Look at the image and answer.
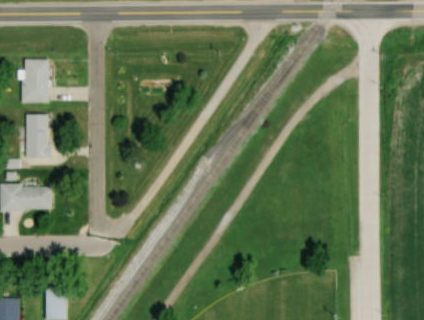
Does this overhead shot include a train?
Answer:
No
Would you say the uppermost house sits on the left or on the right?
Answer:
left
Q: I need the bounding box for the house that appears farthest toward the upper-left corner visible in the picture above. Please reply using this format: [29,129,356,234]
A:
[17,58,49,102]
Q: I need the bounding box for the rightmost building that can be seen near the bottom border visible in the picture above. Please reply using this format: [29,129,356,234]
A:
[44,288,68,320]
